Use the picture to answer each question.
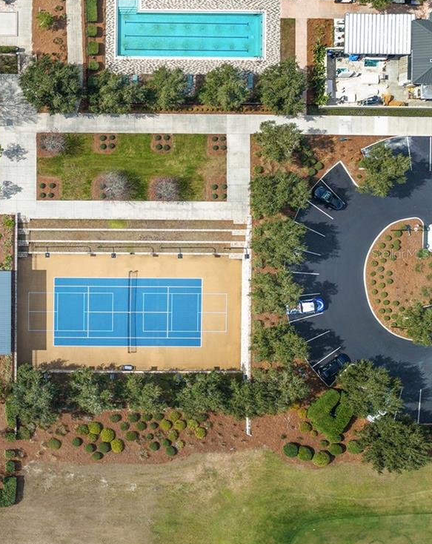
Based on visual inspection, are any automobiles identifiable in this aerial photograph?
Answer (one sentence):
Yes, the frame does contain an automobile.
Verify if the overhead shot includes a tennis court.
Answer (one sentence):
Yes, a tennis court appears in the view.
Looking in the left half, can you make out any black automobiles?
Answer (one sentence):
No, no black automobile appears in the left half.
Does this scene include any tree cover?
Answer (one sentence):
Yes, tree cover can be seen from above here.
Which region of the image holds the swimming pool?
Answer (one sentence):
The swimming pool appears toward the top of the photo.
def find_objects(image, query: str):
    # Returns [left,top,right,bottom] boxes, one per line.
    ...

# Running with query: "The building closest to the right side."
[398,19,432,85]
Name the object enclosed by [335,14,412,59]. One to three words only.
shed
